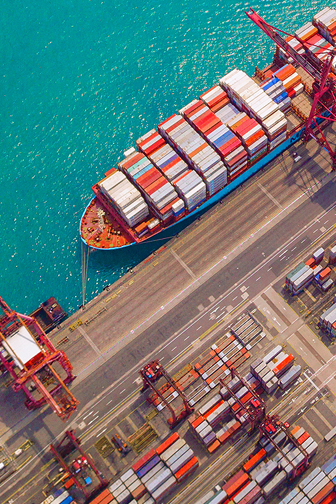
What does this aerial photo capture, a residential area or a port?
port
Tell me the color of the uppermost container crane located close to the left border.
red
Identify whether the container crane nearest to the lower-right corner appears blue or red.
red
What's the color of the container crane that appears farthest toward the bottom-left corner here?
red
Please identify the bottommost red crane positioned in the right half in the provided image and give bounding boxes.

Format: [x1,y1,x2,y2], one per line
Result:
[253,413,312,486]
